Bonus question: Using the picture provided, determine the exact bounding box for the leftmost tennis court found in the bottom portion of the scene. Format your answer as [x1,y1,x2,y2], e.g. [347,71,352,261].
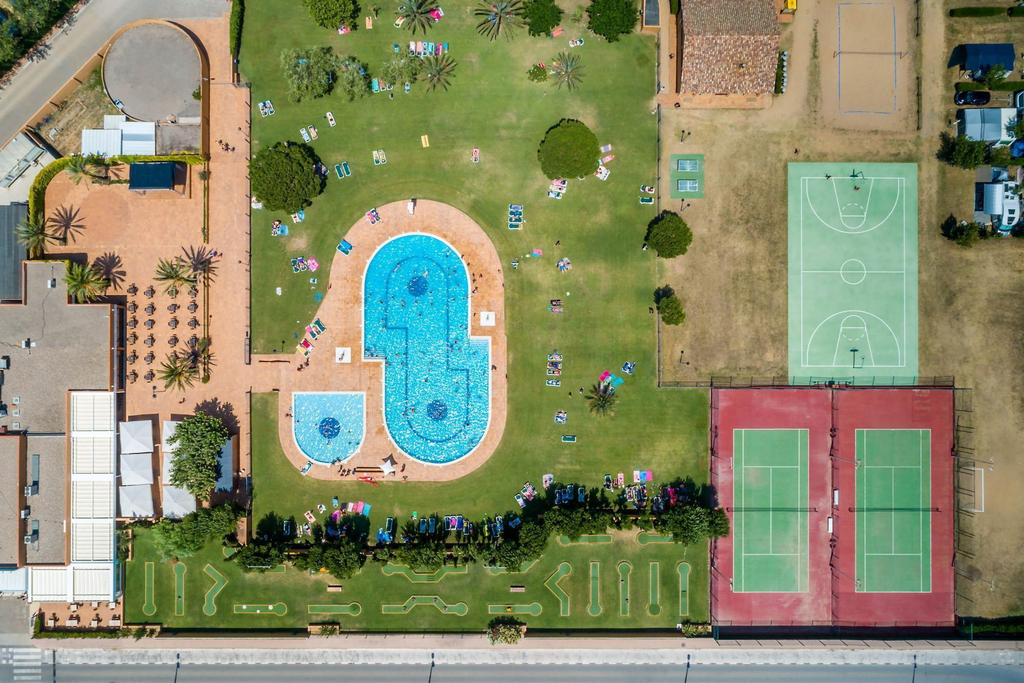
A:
[712,387,832,626]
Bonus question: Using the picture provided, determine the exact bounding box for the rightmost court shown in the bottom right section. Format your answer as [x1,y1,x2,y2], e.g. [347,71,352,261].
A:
[832,387,955,626]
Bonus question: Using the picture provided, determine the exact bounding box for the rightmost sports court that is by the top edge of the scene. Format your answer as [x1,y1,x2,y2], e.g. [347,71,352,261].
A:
[838,3,897,113]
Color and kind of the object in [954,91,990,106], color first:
black car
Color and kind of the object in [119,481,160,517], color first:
white tent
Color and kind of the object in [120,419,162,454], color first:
white tent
